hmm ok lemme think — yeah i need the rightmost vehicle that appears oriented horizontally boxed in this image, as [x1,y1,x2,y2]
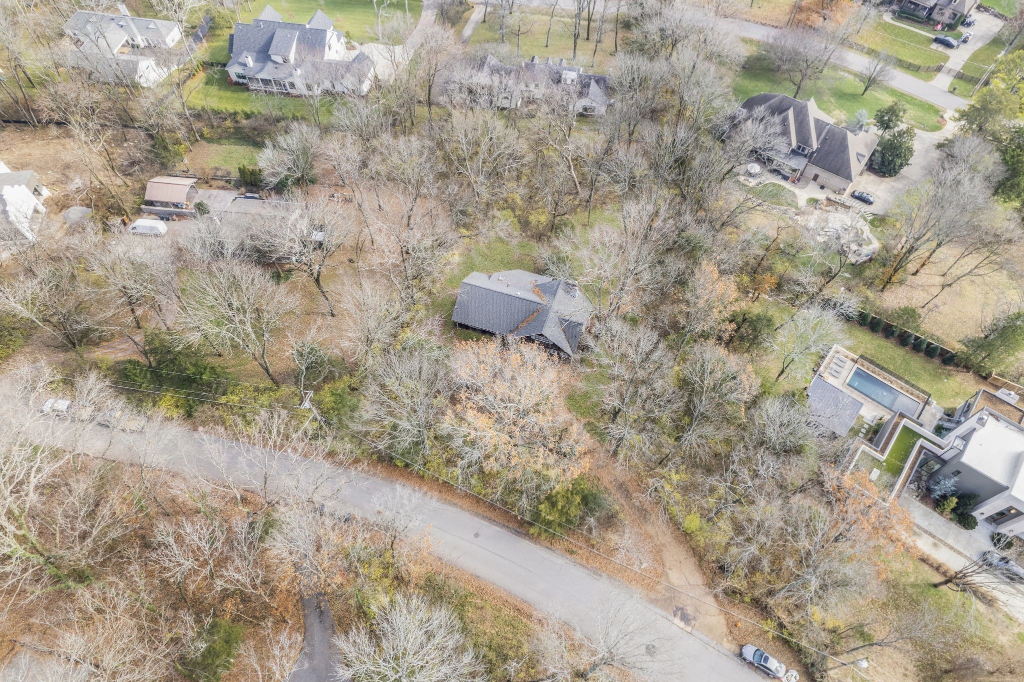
[932,30,964,47]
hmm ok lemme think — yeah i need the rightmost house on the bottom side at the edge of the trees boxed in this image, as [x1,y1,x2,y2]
[922,383,1024,543]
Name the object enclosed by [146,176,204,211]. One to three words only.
building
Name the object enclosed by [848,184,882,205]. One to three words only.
car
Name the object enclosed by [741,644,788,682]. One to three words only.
car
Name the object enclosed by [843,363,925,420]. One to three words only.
swimming pool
